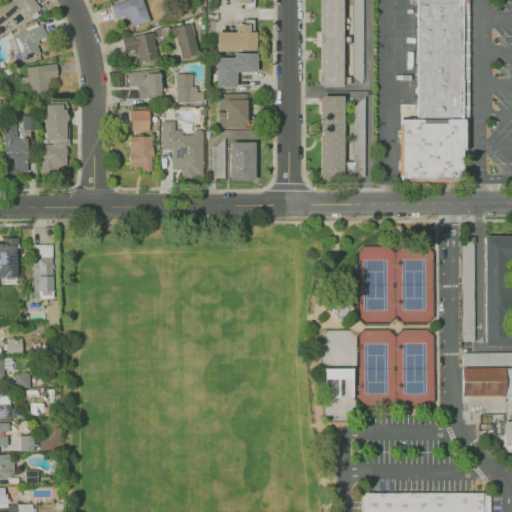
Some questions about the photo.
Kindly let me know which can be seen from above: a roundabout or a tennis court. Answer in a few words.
tennis court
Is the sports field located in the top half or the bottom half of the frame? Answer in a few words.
bottom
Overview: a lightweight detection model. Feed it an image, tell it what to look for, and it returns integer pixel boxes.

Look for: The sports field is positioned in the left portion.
[64,242,314,512]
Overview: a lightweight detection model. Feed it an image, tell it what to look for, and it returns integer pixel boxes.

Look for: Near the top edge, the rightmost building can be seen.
[416,0,467,118]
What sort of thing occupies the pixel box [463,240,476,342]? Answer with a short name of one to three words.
building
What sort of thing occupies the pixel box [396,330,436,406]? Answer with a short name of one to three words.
tennis court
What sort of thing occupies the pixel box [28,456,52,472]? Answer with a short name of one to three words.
swimming pool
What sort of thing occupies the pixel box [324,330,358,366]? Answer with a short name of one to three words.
basketball court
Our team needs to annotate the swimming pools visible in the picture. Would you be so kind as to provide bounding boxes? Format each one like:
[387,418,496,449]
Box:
[33,490,52,498]
[29,312,46,320]
[28,456,52,472]
[184,64,205,84]
[0,42,10,62]
[175,109,198,122]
